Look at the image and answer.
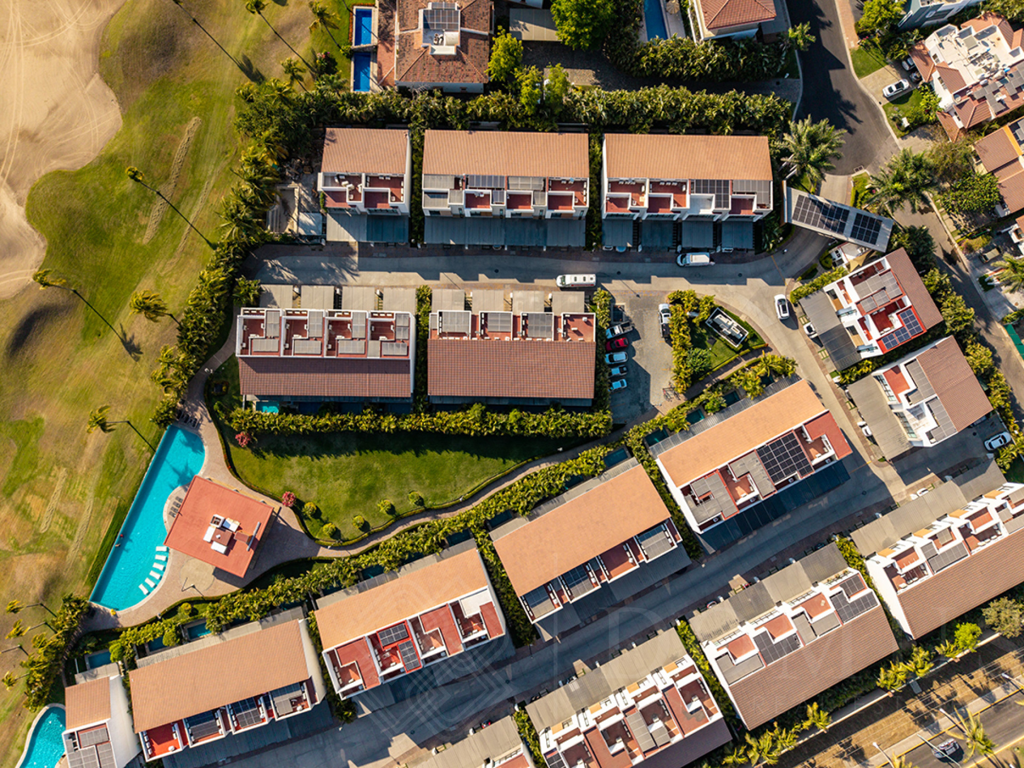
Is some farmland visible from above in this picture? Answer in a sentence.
No, no farmland is visible.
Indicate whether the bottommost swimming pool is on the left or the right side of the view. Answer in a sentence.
The bottommost swimming pool appears in the left half of the scene.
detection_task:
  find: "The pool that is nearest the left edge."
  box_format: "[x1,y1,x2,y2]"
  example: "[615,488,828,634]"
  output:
[13,703,66,768]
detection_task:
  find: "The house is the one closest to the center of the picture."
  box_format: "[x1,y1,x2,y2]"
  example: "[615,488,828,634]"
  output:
[427,290,597,404]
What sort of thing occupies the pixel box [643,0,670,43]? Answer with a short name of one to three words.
swimming pool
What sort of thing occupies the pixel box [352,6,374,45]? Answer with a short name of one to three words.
swimming pool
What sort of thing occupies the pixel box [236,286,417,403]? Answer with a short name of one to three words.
house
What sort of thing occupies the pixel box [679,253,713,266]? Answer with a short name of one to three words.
vehicle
